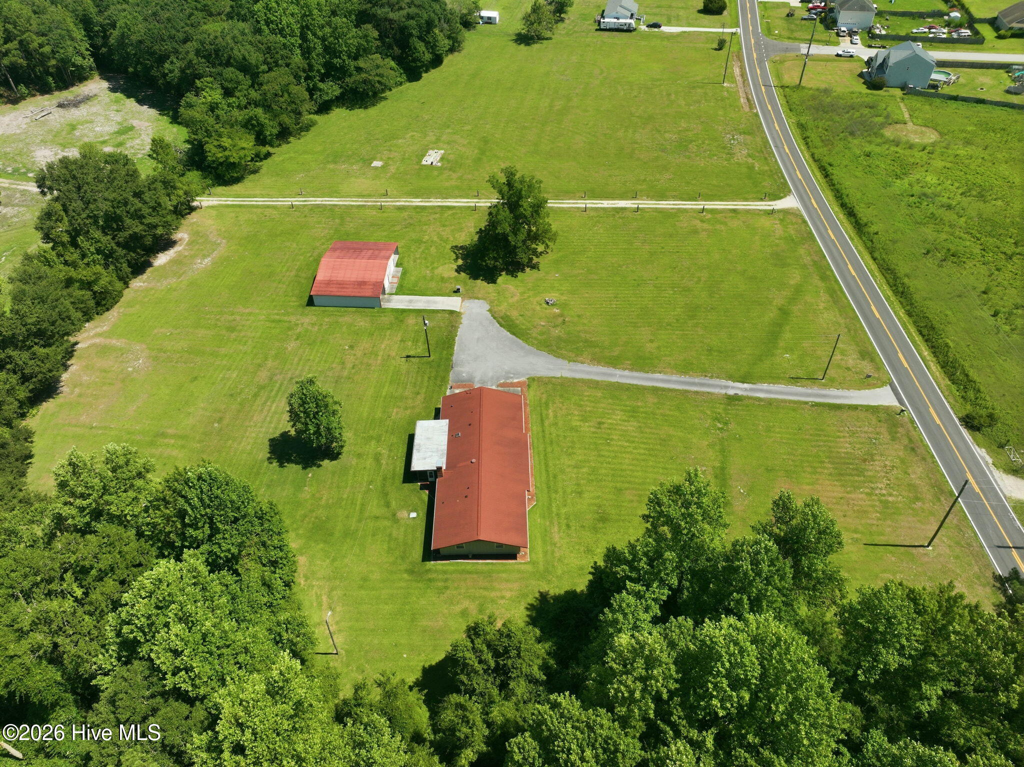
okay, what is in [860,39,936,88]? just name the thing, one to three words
house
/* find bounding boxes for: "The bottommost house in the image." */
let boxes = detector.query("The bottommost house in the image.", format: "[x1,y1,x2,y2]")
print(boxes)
[409,385,531,555]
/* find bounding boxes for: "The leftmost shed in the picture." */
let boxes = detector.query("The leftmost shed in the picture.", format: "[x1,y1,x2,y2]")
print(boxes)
[310,240,398,308]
